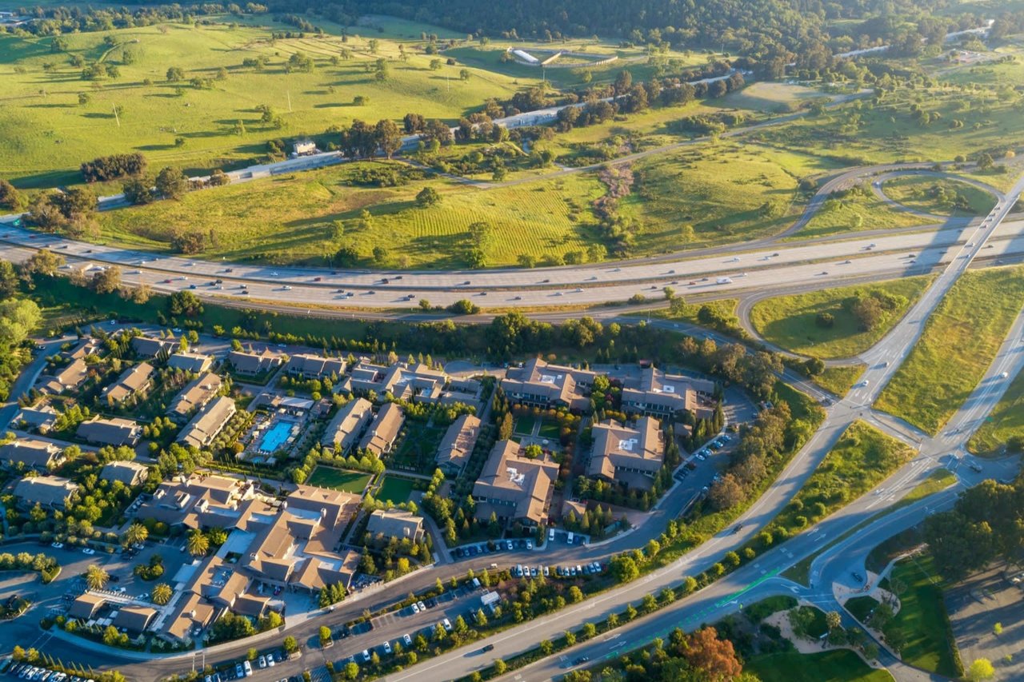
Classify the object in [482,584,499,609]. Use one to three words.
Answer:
vehicle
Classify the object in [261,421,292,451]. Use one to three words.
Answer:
swimming pool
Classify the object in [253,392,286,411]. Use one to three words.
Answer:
building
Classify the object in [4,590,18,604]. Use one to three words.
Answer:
vehicle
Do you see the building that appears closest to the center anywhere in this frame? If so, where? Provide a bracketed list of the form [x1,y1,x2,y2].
[497,356,600,422]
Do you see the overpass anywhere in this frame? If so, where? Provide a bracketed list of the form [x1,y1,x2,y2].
[932,198,1013,296]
